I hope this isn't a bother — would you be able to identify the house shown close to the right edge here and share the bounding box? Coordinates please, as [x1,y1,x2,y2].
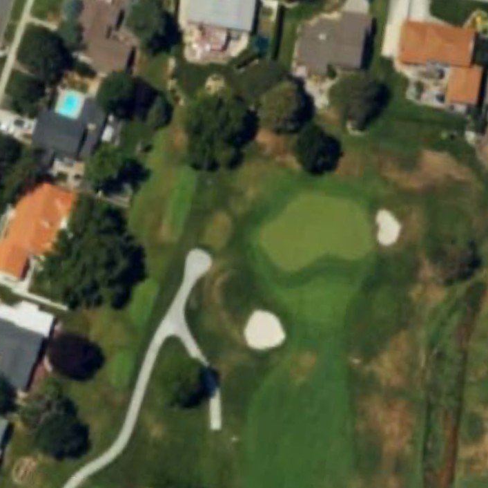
[399,18,486,106]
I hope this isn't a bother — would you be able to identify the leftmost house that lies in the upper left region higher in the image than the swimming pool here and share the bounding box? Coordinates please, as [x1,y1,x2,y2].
[69,0,136,77]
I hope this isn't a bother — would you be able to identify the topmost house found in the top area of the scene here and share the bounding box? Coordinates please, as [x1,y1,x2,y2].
[182,0,258,31]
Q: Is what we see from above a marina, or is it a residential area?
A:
residential area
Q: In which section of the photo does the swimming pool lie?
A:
top left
